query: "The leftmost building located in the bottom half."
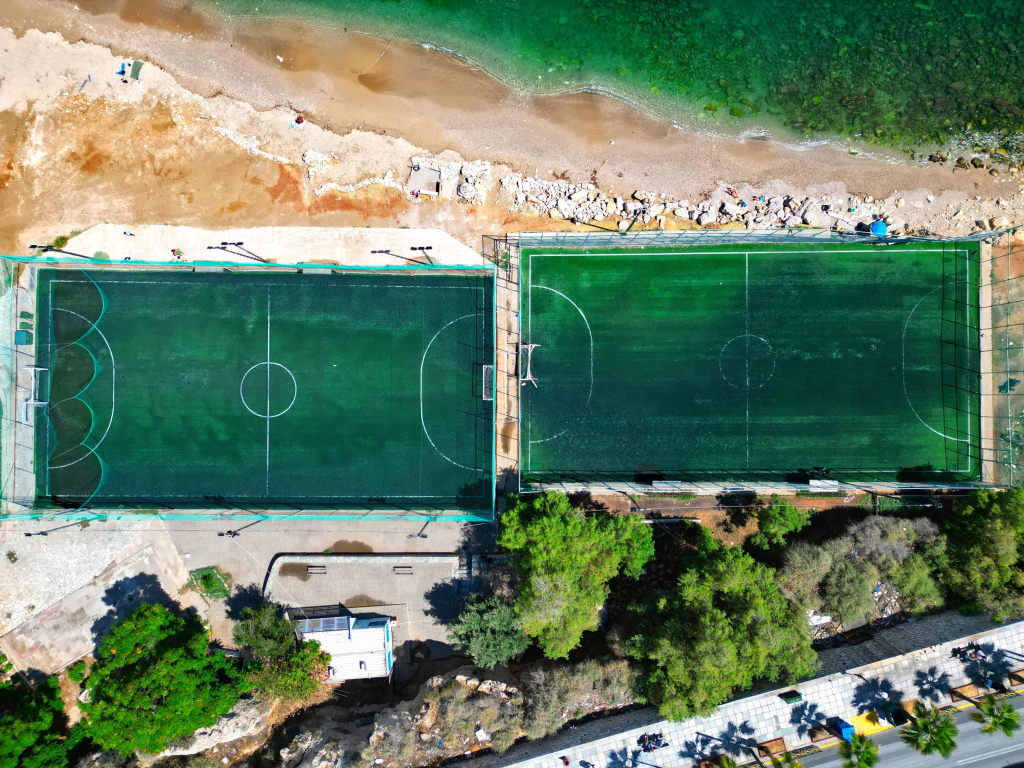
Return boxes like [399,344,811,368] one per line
[297,608,394,683]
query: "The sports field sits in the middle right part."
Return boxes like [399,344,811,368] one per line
[521,241,981,482]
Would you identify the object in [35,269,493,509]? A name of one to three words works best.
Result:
sports field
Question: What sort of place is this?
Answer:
sports ground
